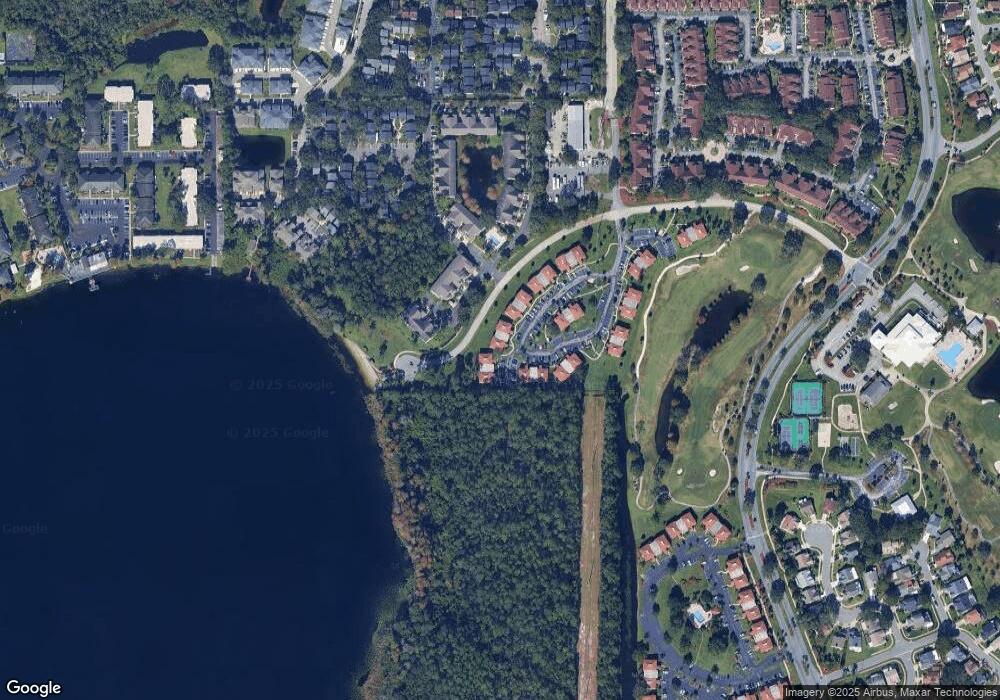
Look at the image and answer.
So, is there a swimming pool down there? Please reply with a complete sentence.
Yes, a swimming pool can be made out from above.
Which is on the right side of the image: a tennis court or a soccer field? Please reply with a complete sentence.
There is a tennis court on the right side of the image.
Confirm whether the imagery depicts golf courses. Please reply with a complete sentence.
Yes, there's a golf course here.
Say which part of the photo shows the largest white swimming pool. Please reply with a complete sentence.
The largest white swimming pool appears toward the right of the photo.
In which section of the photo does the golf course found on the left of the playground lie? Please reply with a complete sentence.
The golf course found on the left of the playground is located in the right region of the scene.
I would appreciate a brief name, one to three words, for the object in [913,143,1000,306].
golf course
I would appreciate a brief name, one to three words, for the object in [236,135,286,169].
pond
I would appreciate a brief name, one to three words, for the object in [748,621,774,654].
house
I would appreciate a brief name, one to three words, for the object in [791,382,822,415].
tennis court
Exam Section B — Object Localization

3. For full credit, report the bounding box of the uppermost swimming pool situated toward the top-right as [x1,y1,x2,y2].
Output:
[762,23,785,54]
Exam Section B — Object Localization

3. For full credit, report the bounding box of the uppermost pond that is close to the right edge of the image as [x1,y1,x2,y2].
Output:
[951,186,1000,263]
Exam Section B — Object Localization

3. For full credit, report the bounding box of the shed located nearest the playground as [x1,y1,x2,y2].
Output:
[860,375,892,405]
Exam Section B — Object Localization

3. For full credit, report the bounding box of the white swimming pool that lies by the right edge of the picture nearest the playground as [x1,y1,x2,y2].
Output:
[932,327,981,378]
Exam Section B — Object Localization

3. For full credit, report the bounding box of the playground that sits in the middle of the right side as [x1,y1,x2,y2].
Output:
[838,405,858,430]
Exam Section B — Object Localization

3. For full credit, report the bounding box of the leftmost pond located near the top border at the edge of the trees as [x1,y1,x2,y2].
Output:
[116,30,208,68]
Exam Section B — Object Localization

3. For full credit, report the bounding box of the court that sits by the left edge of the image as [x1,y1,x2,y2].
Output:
[5,32,36,61]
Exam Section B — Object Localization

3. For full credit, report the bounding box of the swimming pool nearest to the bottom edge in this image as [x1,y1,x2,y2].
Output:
[688,604,711,627]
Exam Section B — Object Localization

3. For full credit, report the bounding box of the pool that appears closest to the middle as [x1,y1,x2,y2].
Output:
[486,226,506,248]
